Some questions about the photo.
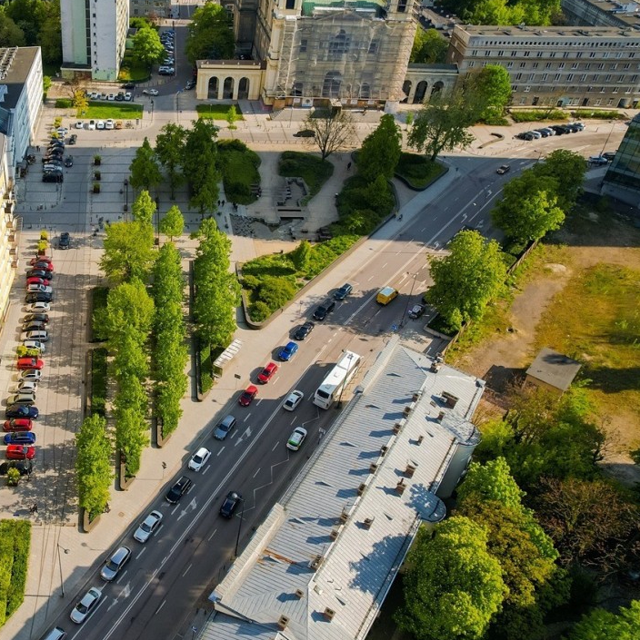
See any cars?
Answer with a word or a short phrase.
Yes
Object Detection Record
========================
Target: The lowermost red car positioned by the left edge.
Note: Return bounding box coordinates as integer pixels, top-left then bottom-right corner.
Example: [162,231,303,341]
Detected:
[5,445,36,460]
